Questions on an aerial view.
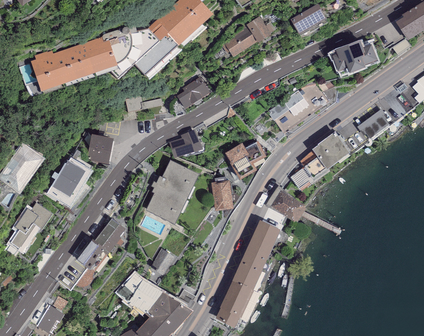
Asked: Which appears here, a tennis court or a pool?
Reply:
pool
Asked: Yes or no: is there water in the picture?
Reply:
Yes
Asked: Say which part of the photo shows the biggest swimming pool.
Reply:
top left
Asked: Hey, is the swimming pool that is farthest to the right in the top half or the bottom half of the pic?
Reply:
bottom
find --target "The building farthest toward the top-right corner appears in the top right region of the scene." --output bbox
[396,2,424,41]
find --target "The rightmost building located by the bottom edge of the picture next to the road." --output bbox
[217,220,280,328]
